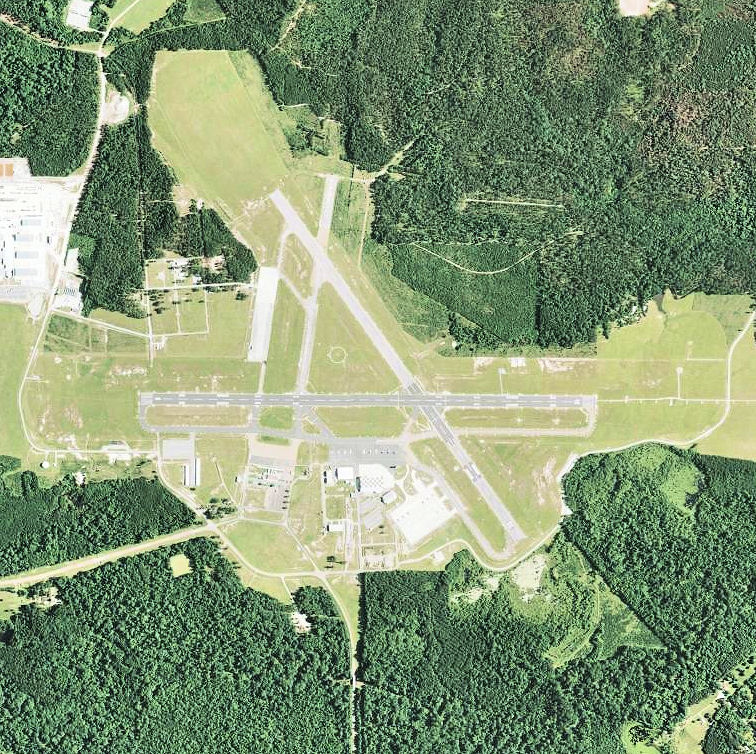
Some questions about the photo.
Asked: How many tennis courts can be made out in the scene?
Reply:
zero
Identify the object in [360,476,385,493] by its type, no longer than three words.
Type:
hangar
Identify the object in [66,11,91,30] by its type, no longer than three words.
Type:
building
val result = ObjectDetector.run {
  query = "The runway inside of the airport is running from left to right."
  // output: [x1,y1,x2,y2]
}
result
[140,392,597,408]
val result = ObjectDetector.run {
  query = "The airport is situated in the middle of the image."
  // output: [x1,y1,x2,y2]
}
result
[44,176,692,559]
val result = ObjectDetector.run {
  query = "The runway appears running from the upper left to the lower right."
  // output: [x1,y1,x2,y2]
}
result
[269,190,524,542]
